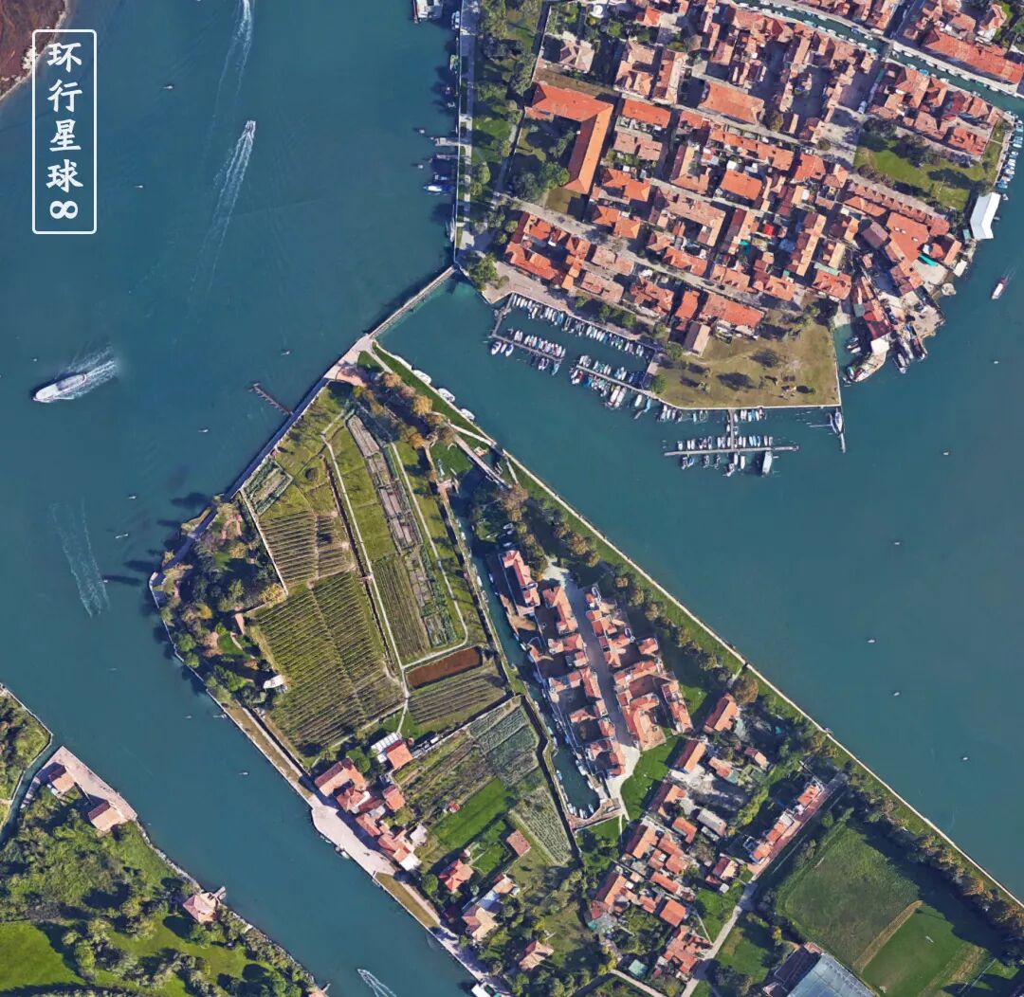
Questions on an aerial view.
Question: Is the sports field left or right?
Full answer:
The sports field appears in the right half of the scene.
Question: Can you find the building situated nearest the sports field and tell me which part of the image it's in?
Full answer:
You can find the building situated nearest the sports field in the bottom right area of the picture.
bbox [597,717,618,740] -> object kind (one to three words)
house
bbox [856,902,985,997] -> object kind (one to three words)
sports field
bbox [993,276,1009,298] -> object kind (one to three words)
vessel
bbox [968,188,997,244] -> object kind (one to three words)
shed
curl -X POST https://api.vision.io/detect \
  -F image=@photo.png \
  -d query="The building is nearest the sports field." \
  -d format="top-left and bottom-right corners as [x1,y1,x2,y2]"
[788,954,876,997]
